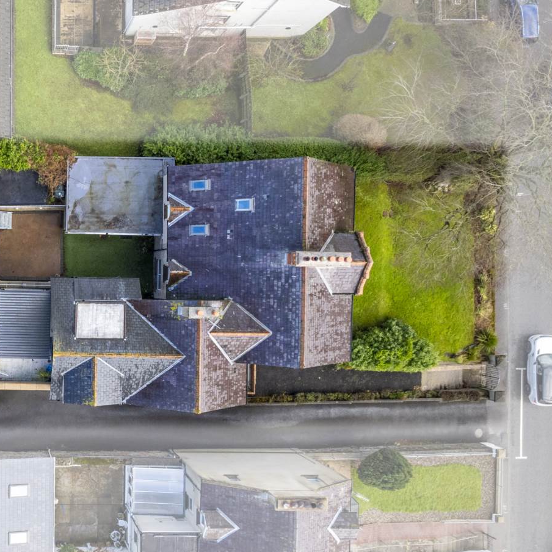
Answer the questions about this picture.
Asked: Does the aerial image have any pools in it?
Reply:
No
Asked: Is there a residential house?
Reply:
Yes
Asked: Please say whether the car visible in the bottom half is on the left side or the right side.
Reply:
right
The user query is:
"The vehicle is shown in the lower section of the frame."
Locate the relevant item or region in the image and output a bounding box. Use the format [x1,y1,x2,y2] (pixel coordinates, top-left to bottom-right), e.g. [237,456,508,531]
[523,334,552,405]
